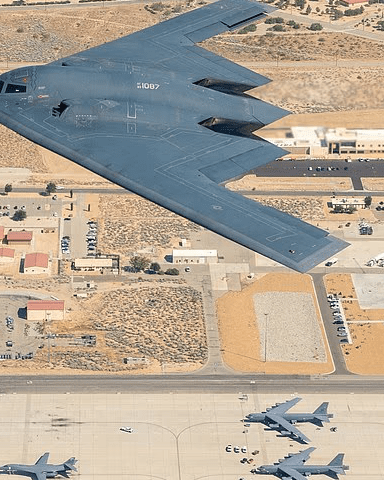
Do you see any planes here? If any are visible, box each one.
[253,445,347,480]
[246,395,336,443]
[0,0,349,271]
[0,450,79,480]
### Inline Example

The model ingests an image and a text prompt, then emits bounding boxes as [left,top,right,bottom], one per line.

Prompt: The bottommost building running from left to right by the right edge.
[328,194,367,209]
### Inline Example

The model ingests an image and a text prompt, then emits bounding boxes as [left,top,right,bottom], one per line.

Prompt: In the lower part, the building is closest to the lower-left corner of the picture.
[27,299,64,320]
